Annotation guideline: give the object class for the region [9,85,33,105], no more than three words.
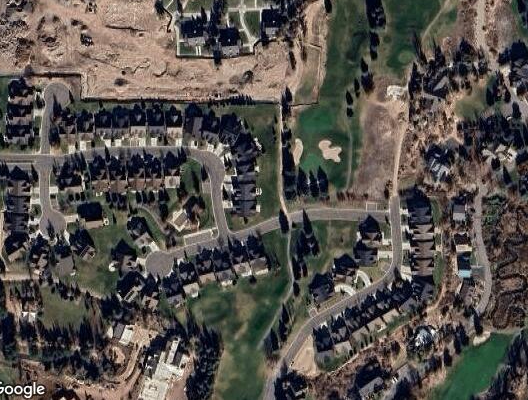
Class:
house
